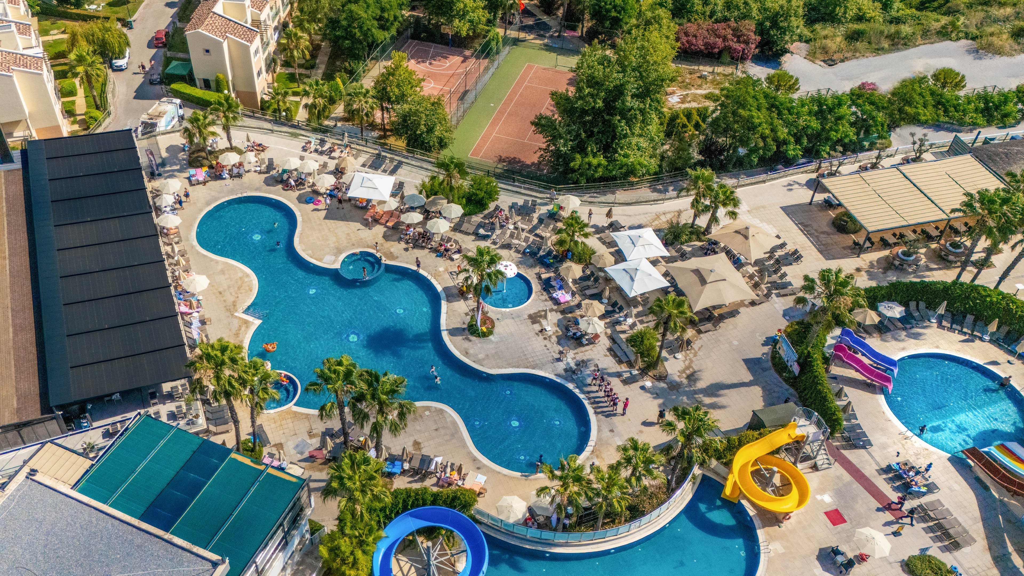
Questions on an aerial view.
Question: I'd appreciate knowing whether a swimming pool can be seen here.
Yes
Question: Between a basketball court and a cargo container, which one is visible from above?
basketball court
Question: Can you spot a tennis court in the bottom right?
No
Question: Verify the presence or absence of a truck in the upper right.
No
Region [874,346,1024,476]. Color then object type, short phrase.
blue swimming pool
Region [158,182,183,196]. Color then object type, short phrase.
white umbrella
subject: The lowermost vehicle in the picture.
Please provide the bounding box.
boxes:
[136,97,184,138]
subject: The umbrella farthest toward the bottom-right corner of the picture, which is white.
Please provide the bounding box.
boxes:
[849,525,891,565]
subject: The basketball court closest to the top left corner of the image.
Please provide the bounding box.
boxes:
[348,40,489,125]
